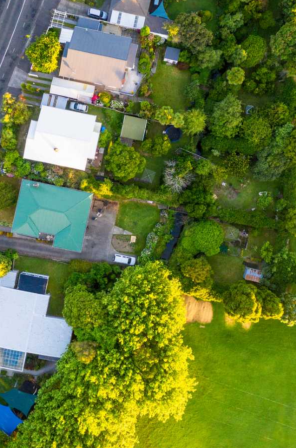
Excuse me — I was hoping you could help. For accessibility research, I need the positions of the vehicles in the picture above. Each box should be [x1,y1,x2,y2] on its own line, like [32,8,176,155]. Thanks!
[67,101,90,112]
[113,254,136,265]
[86,9,108,20]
